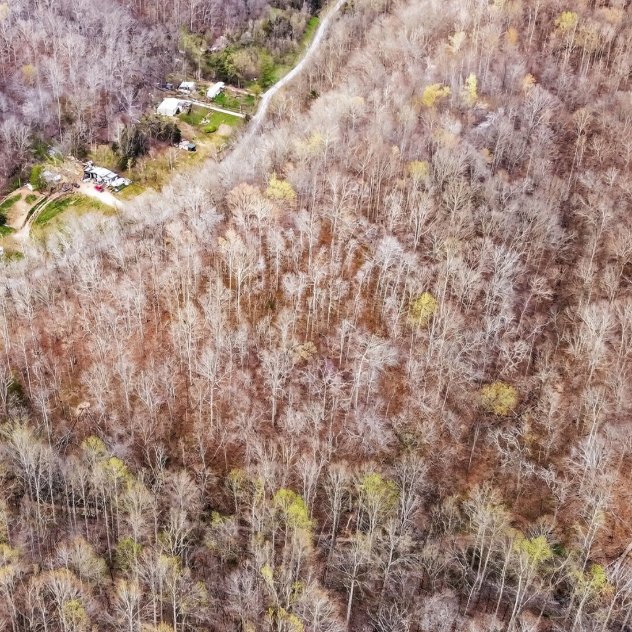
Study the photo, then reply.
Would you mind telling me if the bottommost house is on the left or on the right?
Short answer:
left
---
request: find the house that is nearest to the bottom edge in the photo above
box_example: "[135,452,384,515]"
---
[77,167,115,189]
